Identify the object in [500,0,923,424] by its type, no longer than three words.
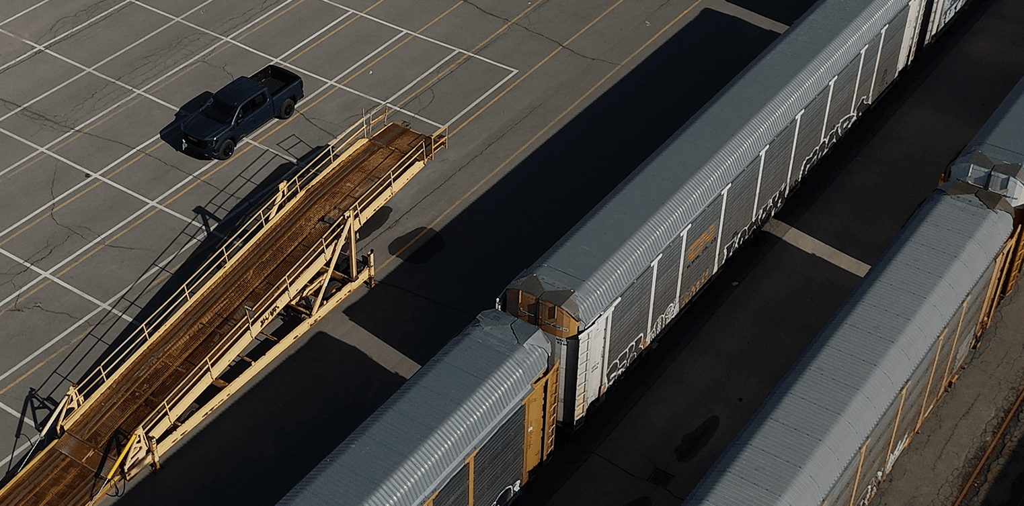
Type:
rail car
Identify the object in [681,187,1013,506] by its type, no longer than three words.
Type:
rail car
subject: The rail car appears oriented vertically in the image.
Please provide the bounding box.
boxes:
[937,74,1024,302]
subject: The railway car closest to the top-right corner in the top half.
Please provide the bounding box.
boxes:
[913,0,964,53]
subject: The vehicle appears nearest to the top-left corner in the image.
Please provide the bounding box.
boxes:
[177,64,305,158]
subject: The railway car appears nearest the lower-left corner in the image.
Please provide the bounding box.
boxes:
[267,311,555,506]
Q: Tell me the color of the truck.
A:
black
